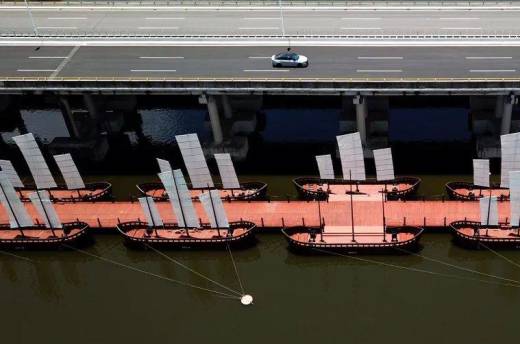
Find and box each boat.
[448,131,520,201]
[281,169,422,254]
[291,131,420,200]
[0,169,84,249]
[452,171,520,249]
[0,132,106,201]
[132,132,263,201]
[111,166,253,249]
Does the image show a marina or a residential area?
marina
